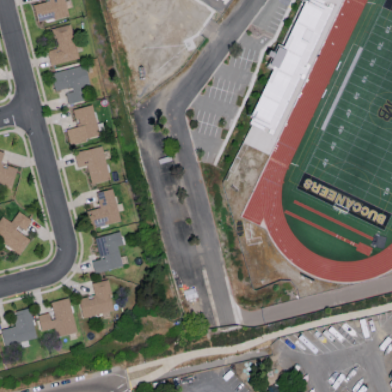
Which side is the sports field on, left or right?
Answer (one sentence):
The sports field appears in the right half of the scene.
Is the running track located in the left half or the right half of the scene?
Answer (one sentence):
The running track is on the right side of the image.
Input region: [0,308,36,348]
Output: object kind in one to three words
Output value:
house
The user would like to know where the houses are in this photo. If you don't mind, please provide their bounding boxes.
[54,64,90,104]
[0,211,32,254]
[80,279,115,319]
[34,0,70,22]
[92,234,128,272]
[0,308,36,348]
[37,298,77,340]
[66,104,104,144]
[87,189,124,229]
[0,150,18,188]
[74,147,112,186]
[48,24,82,65]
